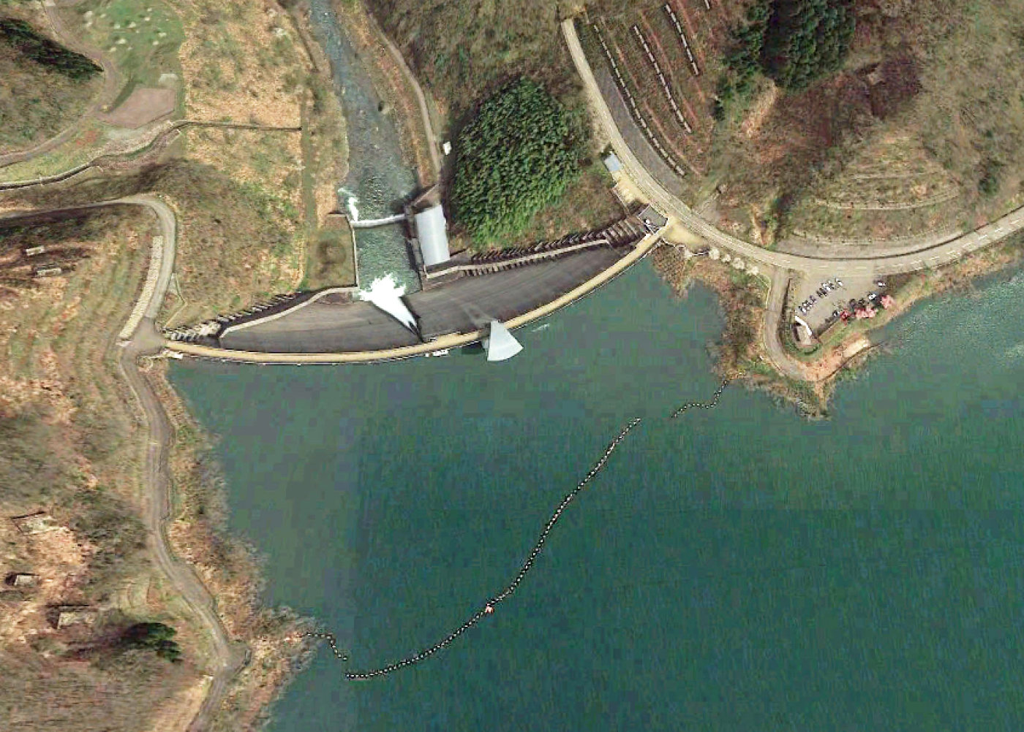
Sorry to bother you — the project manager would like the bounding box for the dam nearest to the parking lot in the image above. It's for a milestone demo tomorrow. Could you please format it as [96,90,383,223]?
[139,199,709,362]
